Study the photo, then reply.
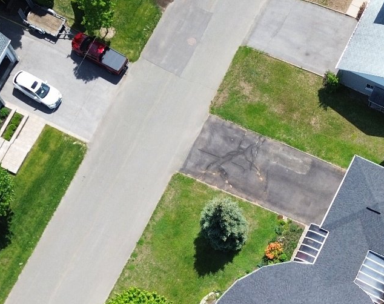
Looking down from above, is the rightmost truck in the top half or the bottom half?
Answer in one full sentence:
The rightmost truck sits in the top half of the picture.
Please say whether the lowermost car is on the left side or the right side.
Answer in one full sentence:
The lowermost car sits on the left side.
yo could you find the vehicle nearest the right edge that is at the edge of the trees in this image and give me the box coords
[69,34,135,78]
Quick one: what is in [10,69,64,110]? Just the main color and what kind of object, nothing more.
white car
